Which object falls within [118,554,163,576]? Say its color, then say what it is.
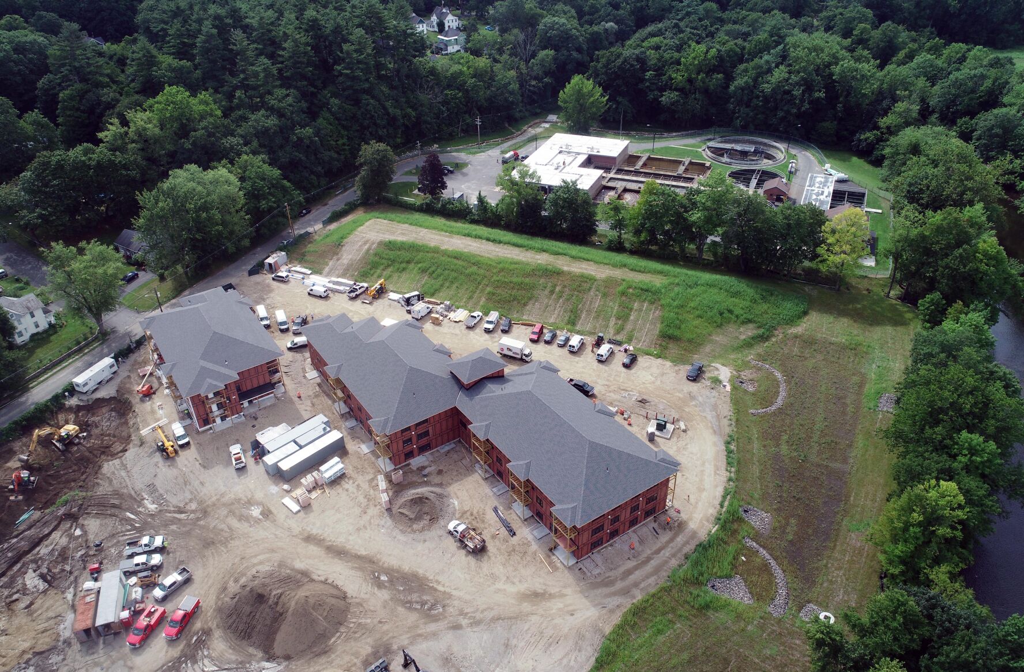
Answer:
white truck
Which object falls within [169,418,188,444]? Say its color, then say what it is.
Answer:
white vehicle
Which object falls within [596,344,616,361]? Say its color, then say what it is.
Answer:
white vehicle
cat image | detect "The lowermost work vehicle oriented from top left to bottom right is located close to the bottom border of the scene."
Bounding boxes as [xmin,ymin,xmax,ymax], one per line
[394,647,429,672]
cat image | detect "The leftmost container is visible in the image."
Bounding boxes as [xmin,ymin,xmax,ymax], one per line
[74,592,100,644]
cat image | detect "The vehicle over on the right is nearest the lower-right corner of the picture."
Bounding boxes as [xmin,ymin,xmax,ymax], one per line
[686,360,706,380]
